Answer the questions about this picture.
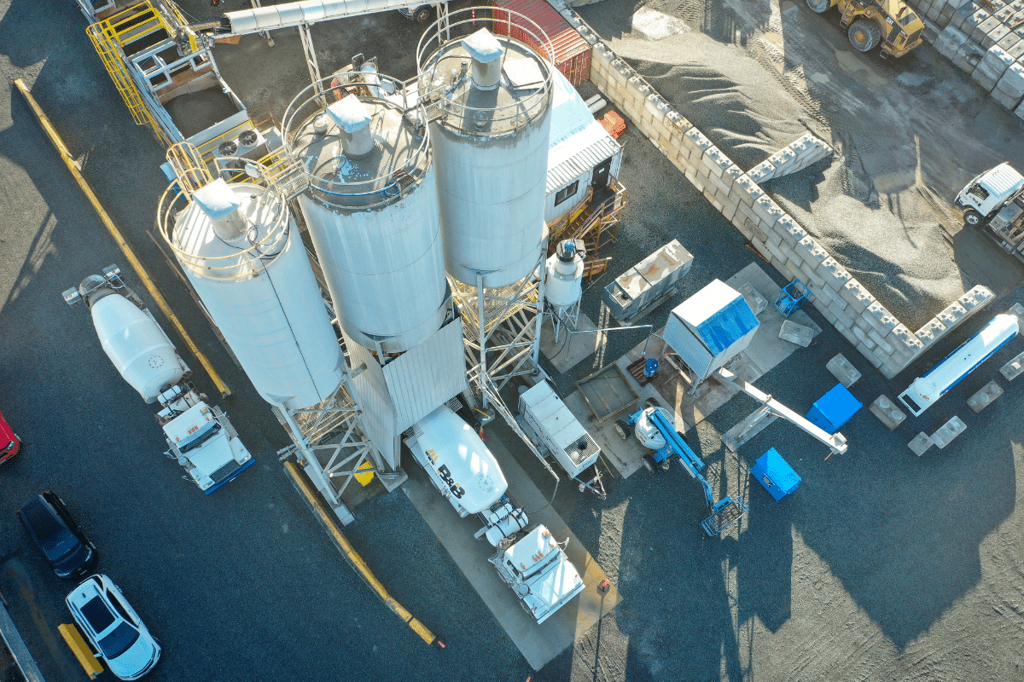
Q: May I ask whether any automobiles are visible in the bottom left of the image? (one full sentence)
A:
Yes, looking in the bottom left of the image, one can make out an automobile.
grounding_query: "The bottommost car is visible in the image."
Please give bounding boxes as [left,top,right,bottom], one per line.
[68,566,161,682]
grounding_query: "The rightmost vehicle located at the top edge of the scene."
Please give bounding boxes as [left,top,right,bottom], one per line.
[808,0,937,70]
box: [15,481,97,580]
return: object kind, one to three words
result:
car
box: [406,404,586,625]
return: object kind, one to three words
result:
truck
